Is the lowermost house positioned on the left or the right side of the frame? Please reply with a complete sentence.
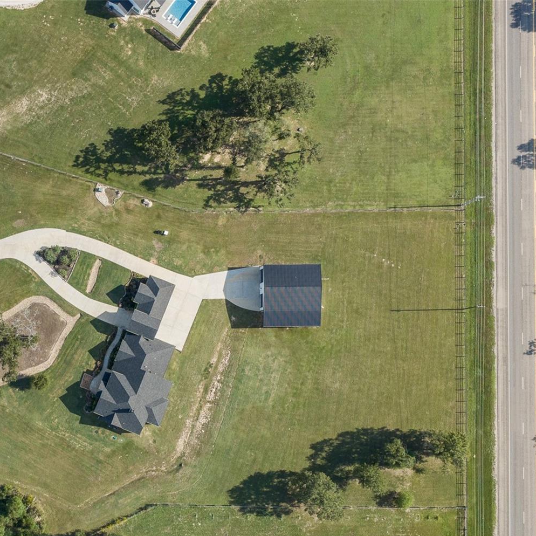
The lowermost house sits on the left side.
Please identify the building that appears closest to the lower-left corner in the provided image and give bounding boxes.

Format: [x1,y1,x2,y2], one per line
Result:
[93,332,176,435]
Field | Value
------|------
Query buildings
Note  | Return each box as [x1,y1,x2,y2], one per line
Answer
[93,332,176,435]
[260,264,329,327]
[108,0,150,17]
